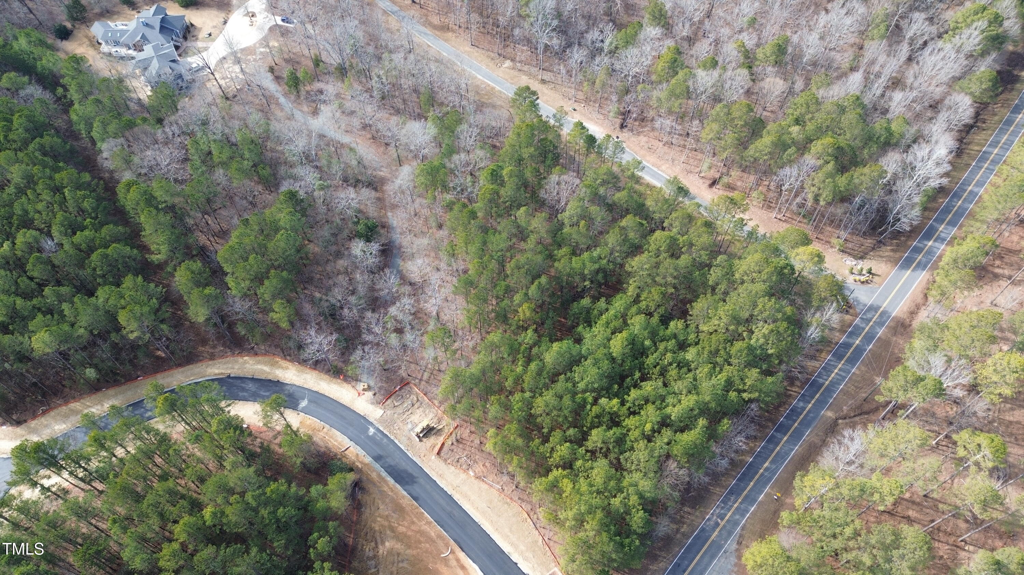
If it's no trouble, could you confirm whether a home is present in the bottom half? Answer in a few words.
No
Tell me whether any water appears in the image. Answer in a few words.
No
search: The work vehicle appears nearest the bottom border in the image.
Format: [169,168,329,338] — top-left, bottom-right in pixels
[412,420,436,445]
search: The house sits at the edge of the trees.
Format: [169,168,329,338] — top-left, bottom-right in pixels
[90,4,189,84]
